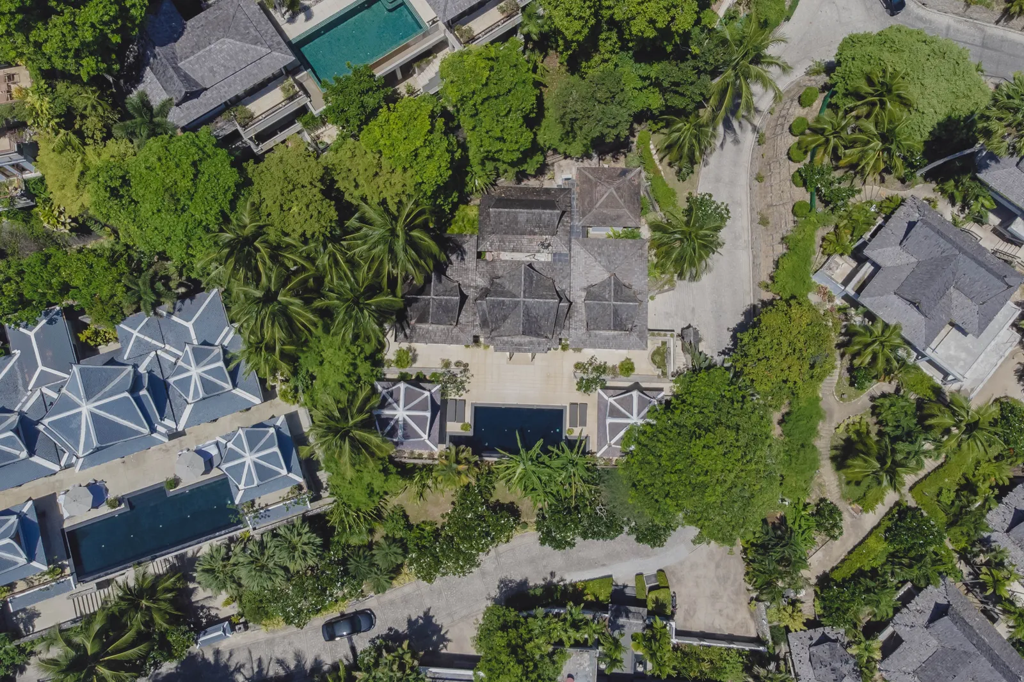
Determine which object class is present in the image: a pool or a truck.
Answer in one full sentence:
The one in the frame is a pool.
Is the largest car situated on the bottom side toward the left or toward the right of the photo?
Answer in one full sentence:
It is on the left.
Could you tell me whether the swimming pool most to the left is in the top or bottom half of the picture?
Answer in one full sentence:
It is in the bottom half that the swimming pool most to the left appears.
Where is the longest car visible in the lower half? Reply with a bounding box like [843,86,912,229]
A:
[320,608,377,641]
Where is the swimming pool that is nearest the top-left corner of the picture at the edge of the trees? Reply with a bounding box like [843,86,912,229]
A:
[290,0,428,102]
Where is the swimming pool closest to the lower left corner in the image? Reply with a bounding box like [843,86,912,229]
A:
[62,478,248,587]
